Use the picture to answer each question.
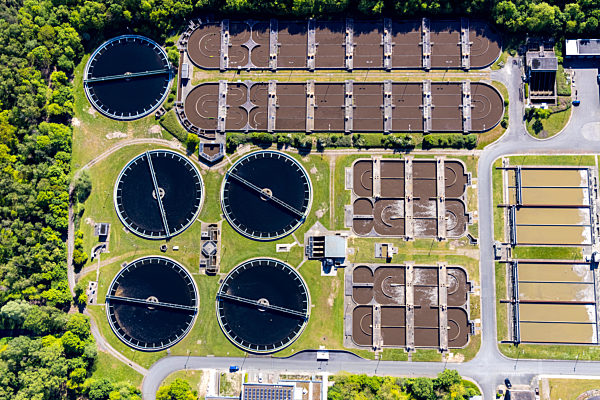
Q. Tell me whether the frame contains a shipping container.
No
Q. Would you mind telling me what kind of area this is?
industrial area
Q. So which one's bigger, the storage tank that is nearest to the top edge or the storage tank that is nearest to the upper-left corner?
the storage tank that is nearest to the top edge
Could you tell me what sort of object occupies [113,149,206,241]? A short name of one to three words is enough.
storage tank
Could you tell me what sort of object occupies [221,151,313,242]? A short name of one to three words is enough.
storage tank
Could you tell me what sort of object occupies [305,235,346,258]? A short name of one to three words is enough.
building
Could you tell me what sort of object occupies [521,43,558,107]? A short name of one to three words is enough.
building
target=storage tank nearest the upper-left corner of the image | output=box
[83,36,175,121]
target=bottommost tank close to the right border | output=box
[499,259,599,346]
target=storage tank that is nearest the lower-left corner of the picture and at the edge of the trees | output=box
[105,255,201,352]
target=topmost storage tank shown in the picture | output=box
[187,17,502,76]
